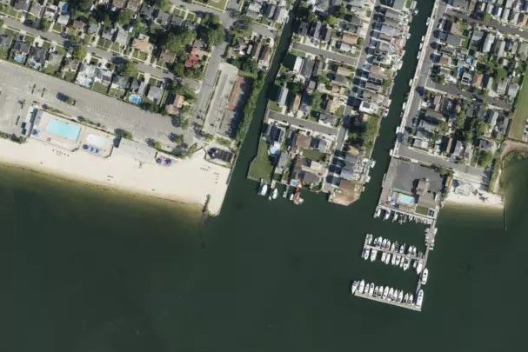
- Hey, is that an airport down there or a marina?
marina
